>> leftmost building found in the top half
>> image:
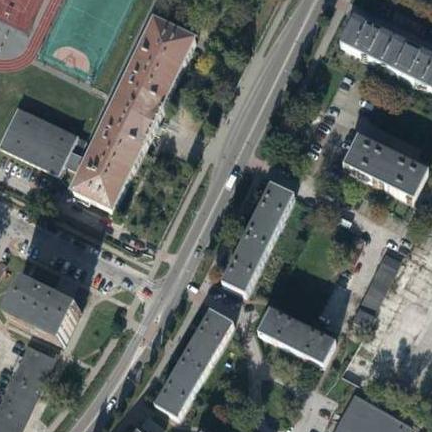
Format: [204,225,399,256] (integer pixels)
[0,107,85,178]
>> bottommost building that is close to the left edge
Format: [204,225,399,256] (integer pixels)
[0,345,57,432]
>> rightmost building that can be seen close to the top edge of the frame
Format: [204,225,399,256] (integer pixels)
[338,13,432,98]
